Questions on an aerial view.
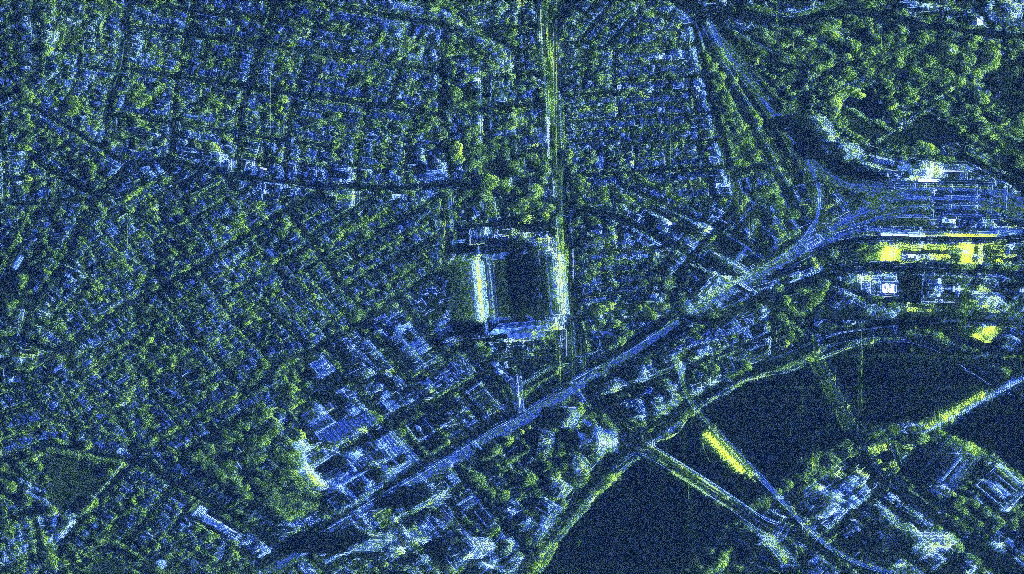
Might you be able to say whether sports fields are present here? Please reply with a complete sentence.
Yes, I can see a sports field in this picture.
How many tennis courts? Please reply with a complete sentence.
There are no tennis courts in the image.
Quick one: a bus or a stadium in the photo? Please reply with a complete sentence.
Looking from above, you can make out a stadium.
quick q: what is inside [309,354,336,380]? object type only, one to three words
building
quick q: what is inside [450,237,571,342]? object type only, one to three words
stadium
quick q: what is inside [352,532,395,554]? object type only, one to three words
building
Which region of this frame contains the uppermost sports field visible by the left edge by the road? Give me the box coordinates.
[44,454,119,512]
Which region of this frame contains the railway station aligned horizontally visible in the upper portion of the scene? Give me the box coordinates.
[902,185,1024,216]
